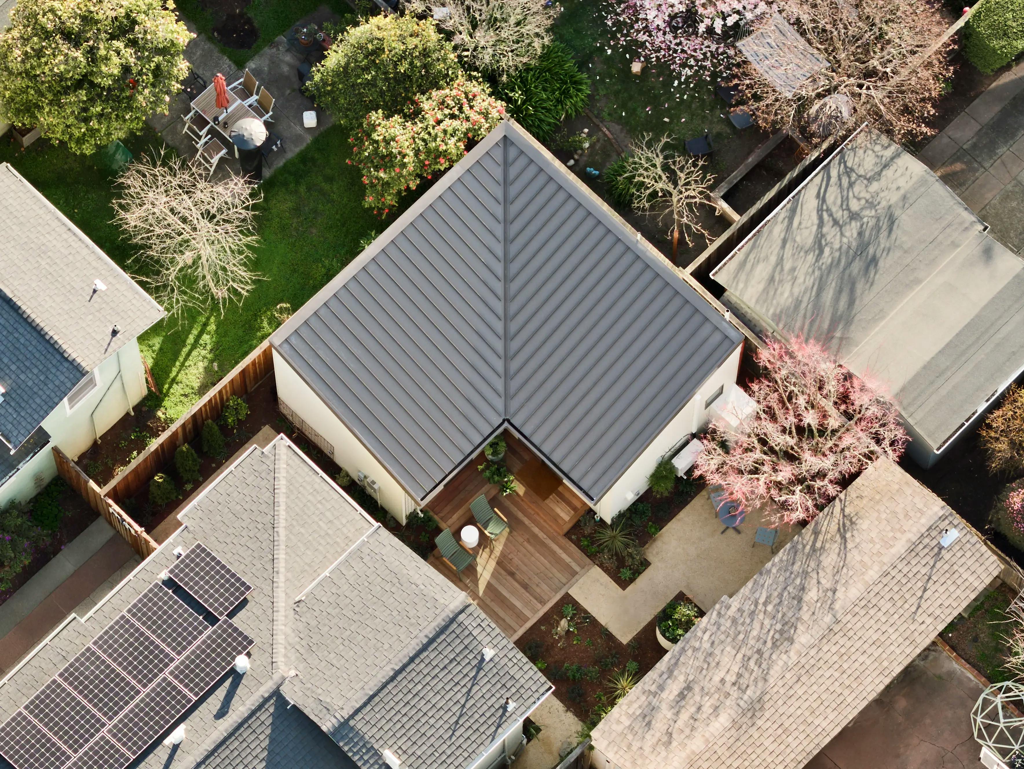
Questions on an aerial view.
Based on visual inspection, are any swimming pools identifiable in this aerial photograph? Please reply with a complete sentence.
No, the picture doesn't show any swimming pool.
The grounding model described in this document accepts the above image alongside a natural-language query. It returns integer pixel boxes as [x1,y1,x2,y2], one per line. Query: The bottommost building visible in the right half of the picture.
[588,456,1008,769]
